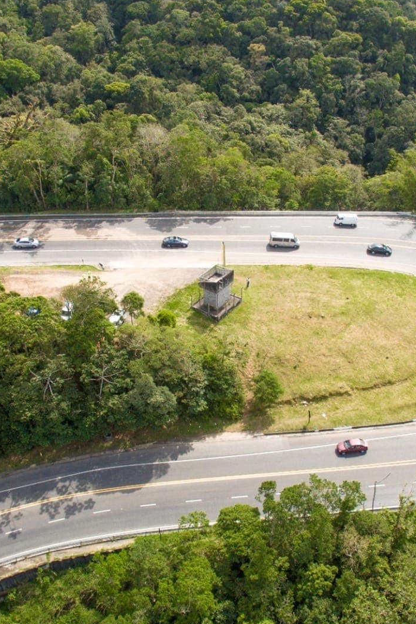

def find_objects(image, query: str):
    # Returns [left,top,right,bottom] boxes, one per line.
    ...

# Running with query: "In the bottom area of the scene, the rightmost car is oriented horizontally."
[336,439,369,455]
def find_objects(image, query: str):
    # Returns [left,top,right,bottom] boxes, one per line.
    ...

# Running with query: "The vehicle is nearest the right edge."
[367,242,393,255]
